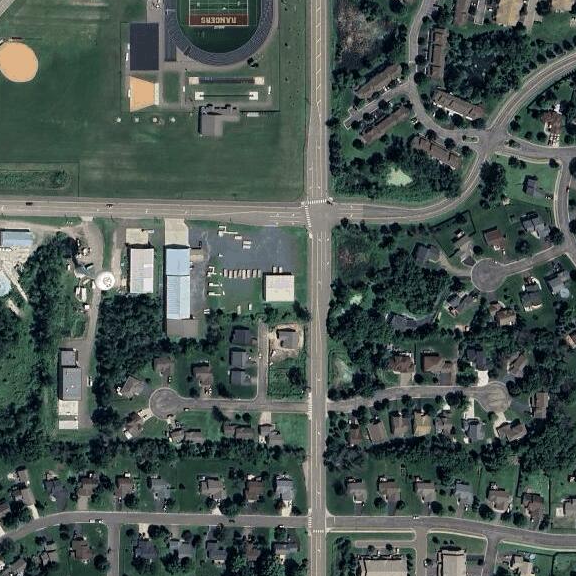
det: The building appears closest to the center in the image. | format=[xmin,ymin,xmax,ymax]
[263,272,295,301]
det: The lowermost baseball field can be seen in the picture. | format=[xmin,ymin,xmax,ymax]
[0,41,38,82]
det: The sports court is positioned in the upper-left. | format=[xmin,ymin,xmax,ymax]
[130,22,159,69]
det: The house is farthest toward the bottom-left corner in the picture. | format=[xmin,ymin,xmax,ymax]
[1,557,25,576]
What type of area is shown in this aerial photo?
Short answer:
residential area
